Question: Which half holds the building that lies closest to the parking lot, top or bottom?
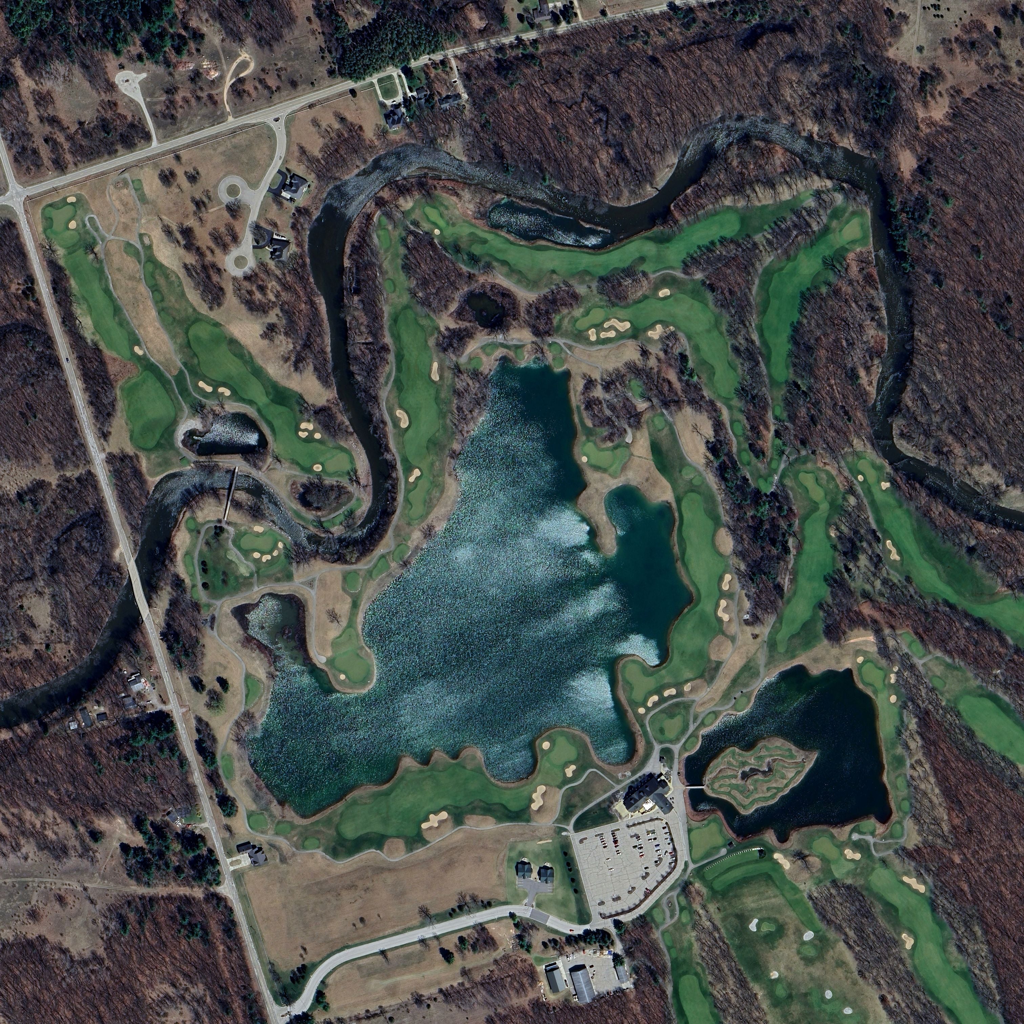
bottom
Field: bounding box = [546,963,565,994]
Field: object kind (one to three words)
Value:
barn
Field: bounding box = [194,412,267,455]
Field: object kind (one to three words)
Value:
pond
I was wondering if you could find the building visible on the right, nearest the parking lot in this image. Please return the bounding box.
[621,775,674,815]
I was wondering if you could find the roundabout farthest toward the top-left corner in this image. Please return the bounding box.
[218,176,249,206]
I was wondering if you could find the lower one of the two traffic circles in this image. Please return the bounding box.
[226,248,256,277]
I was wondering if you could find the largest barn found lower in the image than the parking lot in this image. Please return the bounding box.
[571,967,596,1005]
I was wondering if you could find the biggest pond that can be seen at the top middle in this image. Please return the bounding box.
[488,198,614,249]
